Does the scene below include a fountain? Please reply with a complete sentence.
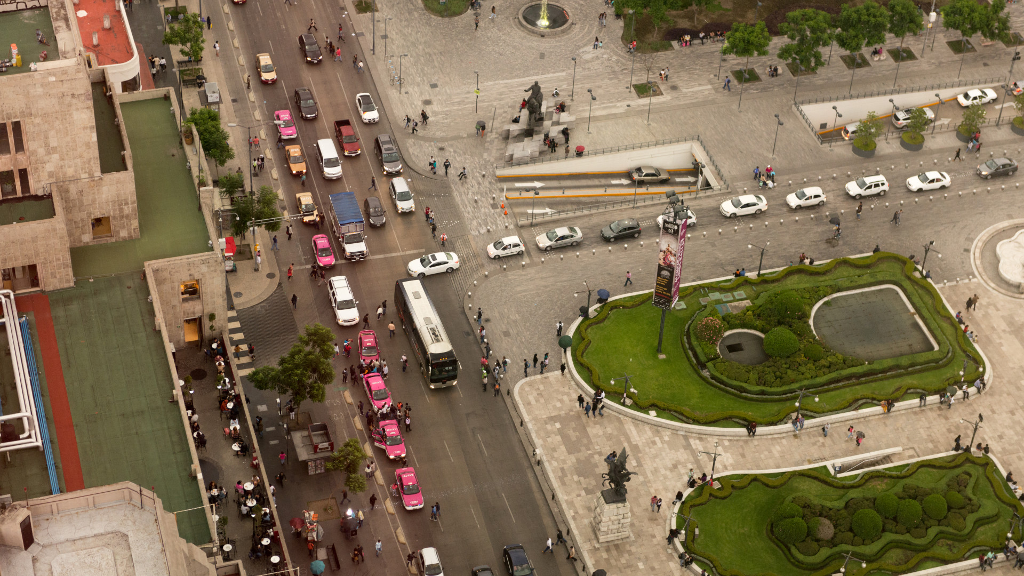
Yes, there is a fountain in the image.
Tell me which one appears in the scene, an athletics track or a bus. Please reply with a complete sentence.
Visible in the photo is a bus.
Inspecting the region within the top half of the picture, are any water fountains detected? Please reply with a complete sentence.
Yes, within the top half of the picture there is a water fountain.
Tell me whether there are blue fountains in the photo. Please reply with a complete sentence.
No, I find no blue fountain anywhere in the image.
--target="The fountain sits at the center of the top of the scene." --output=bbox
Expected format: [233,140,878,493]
[516,0,578,38]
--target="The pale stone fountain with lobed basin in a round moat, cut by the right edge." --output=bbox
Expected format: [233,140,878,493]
[972,224,1024,296]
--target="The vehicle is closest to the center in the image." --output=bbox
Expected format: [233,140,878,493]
[484,234,529,260]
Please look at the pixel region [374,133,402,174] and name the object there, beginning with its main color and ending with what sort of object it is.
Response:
gray vehicle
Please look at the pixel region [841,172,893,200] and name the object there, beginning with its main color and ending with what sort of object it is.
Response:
white car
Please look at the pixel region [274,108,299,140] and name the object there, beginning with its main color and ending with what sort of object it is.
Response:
pink car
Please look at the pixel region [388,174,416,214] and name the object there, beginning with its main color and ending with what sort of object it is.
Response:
white car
